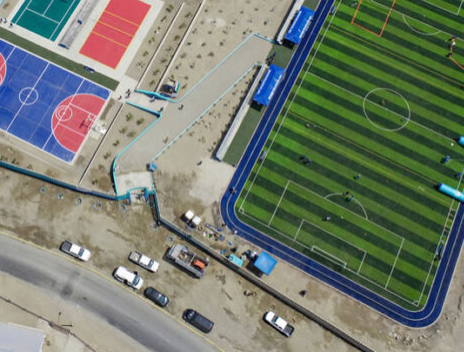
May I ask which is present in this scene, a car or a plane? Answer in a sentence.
The image shows a car.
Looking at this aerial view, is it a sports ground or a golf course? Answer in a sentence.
This looks like a sports ground.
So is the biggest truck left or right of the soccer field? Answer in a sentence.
From the viewer's perspective, the biggest truck falls to the left of the soccer field.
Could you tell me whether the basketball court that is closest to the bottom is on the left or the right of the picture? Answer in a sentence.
The basketball court that is closest to the bottom appears in the left half of the scene.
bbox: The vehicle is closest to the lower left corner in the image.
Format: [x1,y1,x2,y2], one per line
[59,241,90,262]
